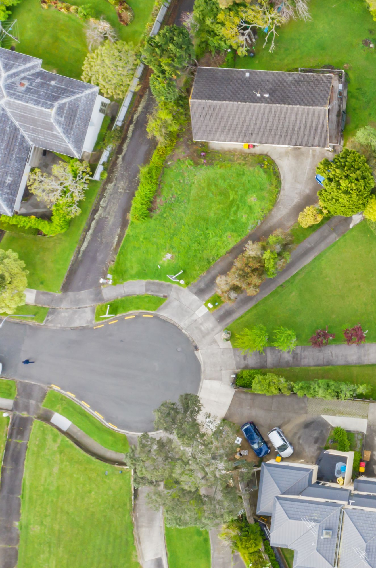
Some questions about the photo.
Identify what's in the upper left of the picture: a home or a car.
home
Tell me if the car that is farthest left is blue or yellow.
blue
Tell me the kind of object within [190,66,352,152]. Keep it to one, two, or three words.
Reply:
house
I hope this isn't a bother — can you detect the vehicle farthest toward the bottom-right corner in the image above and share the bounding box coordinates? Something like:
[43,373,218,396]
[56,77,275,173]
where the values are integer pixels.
[267,427,292,459]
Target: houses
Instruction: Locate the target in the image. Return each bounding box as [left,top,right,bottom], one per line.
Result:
[0,46,111,217]
[256,448,355,568]
[190,66,352,152]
